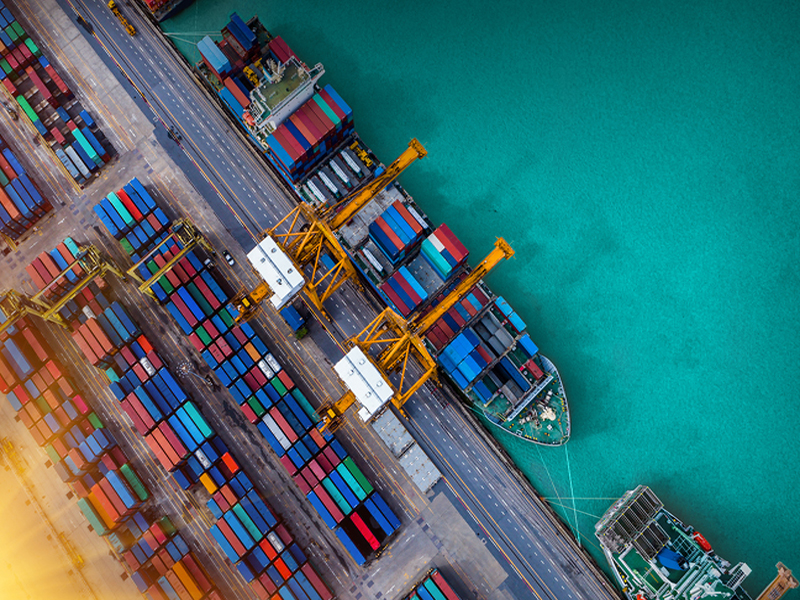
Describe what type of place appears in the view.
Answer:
port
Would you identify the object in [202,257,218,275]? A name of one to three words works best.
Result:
vehicle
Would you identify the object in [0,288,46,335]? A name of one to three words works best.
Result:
container crane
